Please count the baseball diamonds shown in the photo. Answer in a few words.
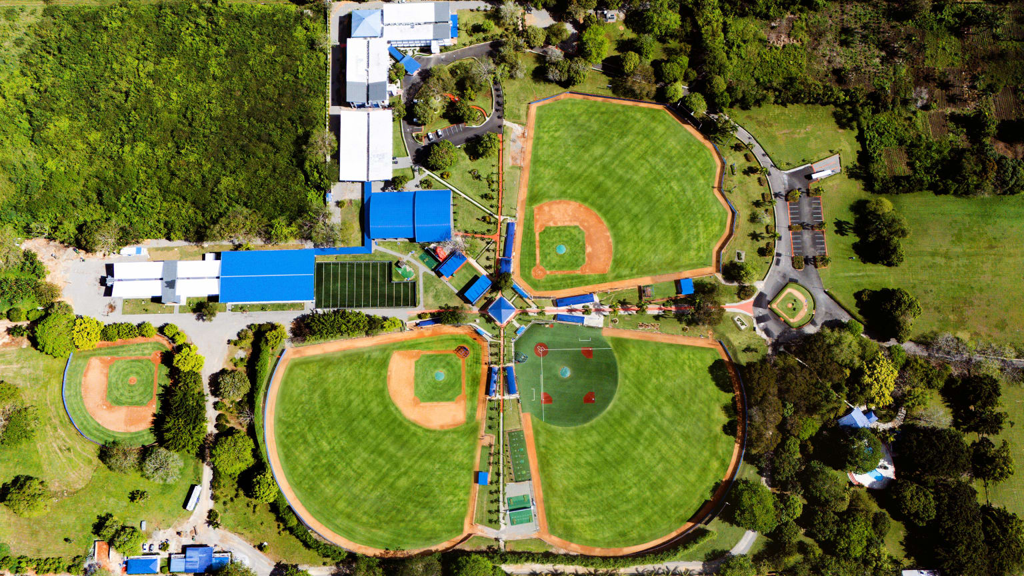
4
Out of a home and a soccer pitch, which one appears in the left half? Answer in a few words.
home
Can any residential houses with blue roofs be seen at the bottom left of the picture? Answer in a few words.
Yes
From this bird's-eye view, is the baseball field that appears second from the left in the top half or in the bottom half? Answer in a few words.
bottom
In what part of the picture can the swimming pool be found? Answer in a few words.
bottom right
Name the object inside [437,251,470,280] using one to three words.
building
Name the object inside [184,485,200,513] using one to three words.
vehicle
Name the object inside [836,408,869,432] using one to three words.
house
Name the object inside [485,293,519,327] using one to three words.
building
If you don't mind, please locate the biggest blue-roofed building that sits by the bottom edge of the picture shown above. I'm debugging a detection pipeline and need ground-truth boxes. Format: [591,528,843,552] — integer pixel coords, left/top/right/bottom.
[185,545,216,573]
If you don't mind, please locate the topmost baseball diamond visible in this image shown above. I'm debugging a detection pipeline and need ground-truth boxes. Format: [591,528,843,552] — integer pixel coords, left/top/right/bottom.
[516,93,736,298]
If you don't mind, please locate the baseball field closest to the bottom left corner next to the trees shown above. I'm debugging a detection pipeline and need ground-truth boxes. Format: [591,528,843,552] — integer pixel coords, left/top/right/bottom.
[63,333,175,449]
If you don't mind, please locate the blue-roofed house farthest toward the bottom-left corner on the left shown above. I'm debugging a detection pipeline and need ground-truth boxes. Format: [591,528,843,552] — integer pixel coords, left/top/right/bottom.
[127,559,158,574]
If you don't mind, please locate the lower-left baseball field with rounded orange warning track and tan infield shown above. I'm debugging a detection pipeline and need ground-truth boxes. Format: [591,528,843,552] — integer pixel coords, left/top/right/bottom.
[265,324,490,557]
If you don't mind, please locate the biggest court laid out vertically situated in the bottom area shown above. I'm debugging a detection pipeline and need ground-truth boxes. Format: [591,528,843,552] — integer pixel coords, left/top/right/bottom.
[507,428,531,483]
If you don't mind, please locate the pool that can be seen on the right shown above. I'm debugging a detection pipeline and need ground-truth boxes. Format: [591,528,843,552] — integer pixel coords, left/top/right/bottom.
[847,434,896,489]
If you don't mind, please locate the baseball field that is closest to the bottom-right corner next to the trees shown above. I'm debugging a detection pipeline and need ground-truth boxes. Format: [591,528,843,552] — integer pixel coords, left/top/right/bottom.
[513,322,747,556]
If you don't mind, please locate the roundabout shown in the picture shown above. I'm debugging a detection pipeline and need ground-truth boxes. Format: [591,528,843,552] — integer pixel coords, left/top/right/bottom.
[767,282,816,329]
